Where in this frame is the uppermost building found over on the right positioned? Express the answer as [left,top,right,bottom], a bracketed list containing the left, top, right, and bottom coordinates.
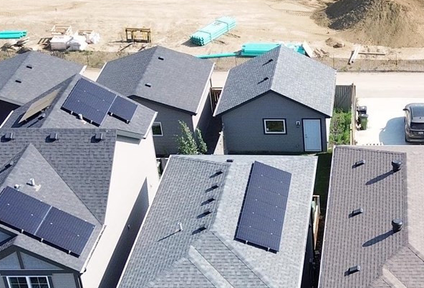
[211,48,340,154]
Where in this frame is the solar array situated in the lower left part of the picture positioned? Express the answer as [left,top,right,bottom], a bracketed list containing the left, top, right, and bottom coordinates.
[0,184,94,251]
